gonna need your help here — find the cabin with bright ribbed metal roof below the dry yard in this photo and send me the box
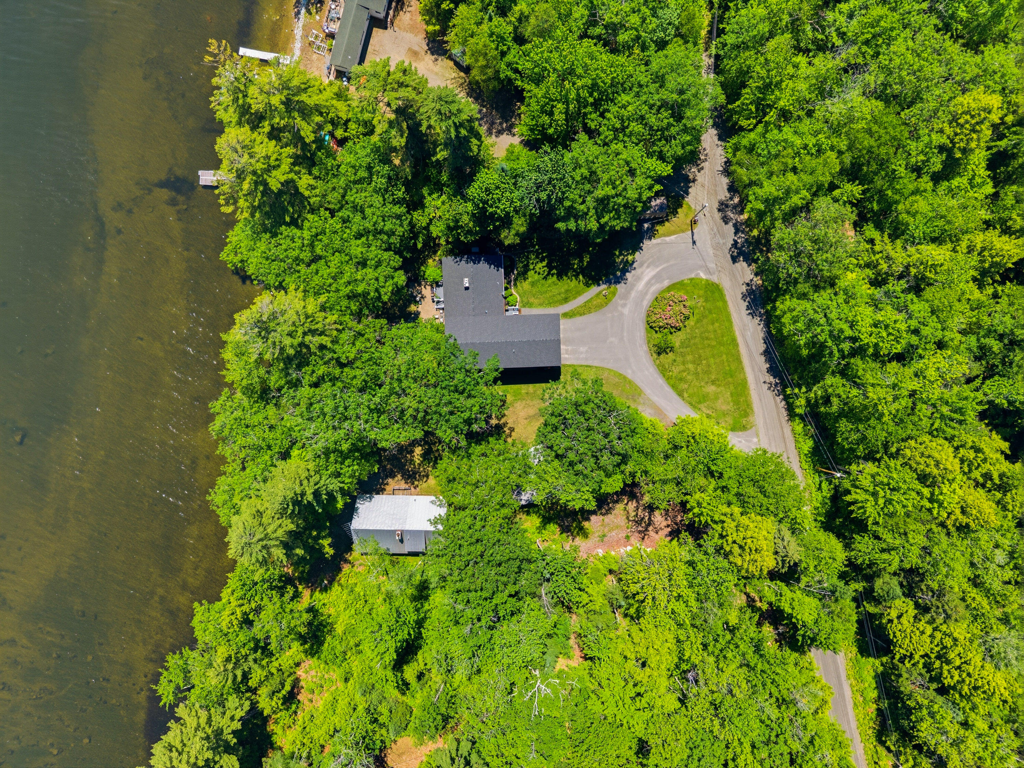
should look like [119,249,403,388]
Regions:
[351,495,447,554]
